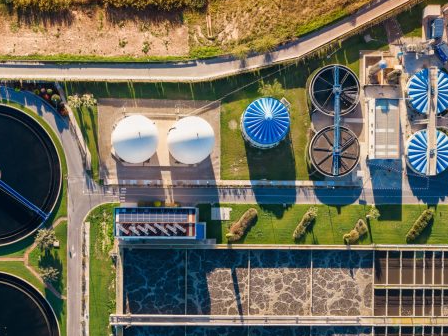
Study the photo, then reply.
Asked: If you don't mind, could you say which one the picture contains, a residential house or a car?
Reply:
residential house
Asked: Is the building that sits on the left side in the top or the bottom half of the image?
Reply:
bottom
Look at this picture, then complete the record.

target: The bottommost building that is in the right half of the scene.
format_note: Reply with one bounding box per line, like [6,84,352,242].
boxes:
[364,98,400,161]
